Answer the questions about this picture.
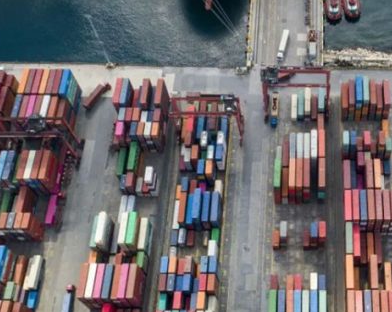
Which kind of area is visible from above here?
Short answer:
port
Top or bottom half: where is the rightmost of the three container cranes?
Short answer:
top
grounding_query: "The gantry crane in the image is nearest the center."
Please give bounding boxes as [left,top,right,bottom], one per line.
[170,93,250,150]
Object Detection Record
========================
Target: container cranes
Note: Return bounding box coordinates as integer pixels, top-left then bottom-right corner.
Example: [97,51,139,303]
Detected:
[263,66,334,122]
[0,114,83,170]
[170,93,250,150]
